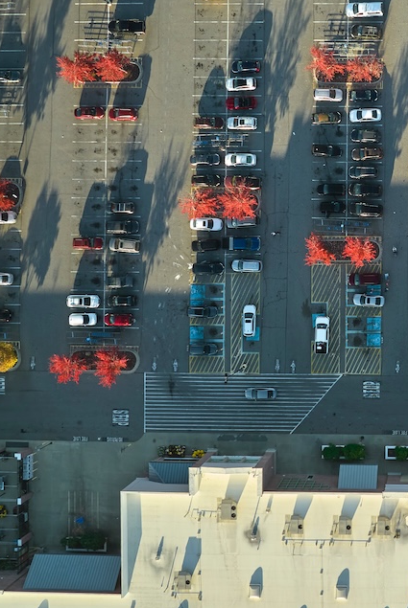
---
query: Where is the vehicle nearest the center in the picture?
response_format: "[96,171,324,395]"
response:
[184,305,221,320]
